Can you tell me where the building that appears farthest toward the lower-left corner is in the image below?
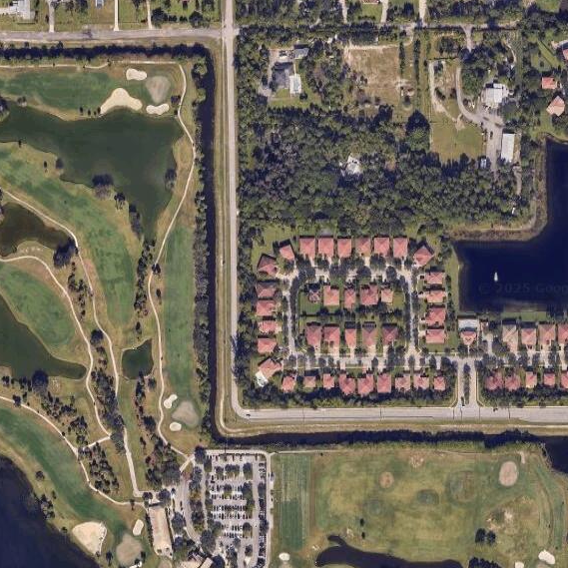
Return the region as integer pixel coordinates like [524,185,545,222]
[148,506,172,558]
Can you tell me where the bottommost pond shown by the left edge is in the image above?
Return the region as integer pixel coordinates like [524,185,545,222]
[0,297,87,379]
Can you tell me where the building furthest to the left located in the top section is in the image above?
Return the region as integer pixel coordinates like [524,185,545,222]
[11,0,30,19]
